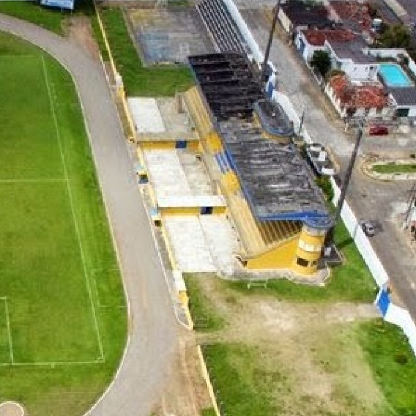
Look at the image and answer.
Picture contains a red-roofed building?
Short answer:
Yes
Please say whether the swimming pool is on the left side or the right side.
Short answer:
right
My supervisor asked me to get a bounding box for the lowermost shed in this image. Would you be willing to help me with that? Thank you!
[326,242,355,273]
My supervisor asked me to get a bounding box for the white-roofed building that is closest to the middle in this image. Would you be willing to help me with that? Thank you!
[158,188,230,213]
